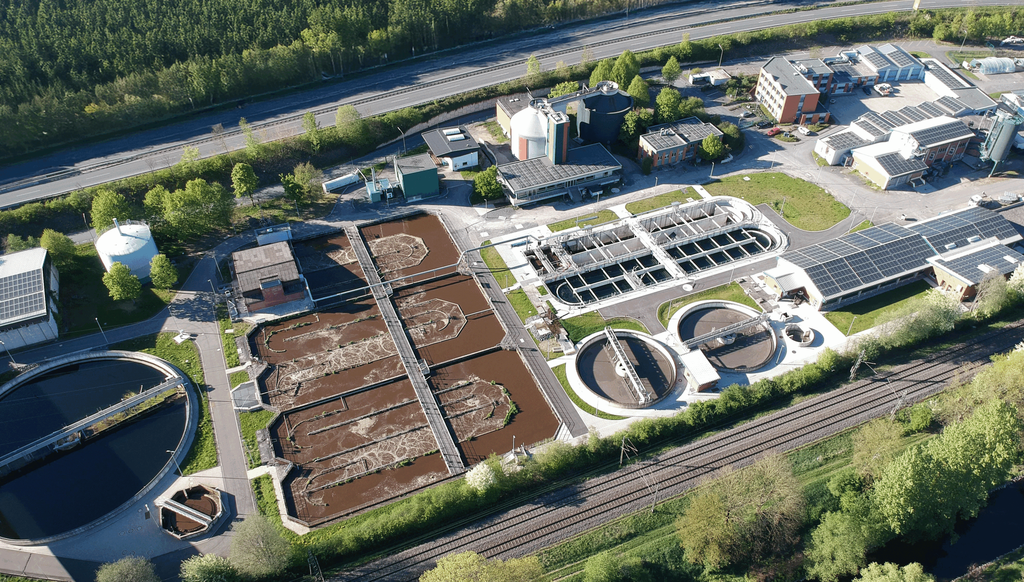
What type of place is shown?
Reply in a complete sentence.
This image shows an industrial area.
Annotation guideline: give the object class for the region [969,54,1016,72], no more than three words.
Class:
greenhouse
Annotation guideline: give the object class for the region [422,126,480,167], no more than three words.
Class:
building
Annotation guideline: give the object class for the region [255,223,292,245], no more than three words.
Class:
building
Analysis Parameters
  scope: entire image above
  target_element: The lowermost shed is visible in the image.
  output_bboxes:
[678,349,721,394]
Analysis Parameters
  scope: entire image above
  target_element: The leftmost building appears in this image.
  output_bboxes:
[0,250,56,350]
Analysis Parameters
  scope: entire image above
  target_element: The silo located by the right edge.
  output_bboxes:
[978,111,1024,180]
